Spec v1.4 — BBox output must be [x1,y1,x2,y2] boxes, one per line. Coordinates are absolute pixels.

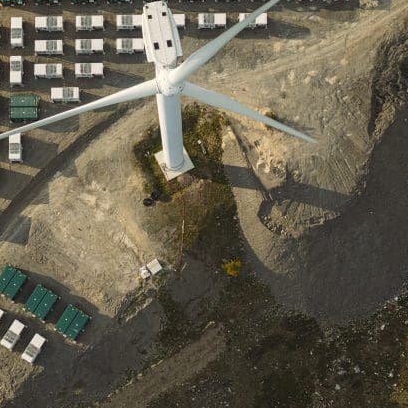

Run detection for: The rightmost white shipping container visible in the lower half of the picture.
[22,329,51,363]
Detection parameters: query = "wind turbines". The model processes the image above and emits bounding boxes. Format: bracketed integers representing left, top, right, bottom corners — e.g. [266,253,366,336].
[0,0,317,184]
